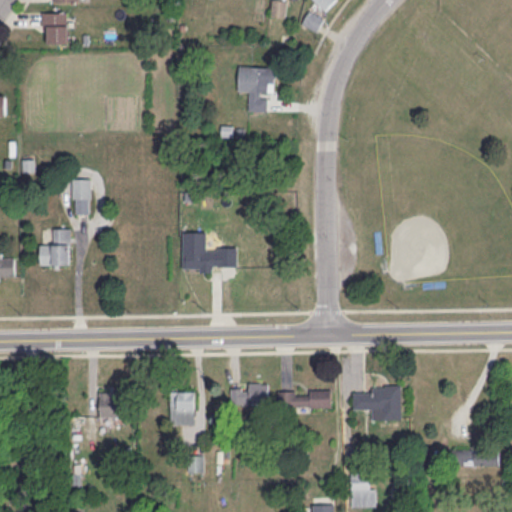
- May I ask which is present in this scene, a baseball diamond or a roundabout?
baseball diamond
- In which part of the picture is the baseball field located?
right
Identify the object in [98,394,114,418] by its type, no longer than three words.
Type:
house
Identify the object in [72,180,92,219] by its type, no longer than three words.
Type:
house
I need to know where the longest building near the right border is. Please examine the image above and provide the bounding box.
[456,451,502,468]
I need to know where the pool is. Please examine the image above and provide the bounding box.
[104,26,118,44]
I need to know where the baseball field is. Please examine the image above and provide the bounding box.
[391,215,450,282]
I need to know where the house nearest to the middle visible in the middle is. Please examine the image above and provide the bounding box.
[182,232,240,274]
